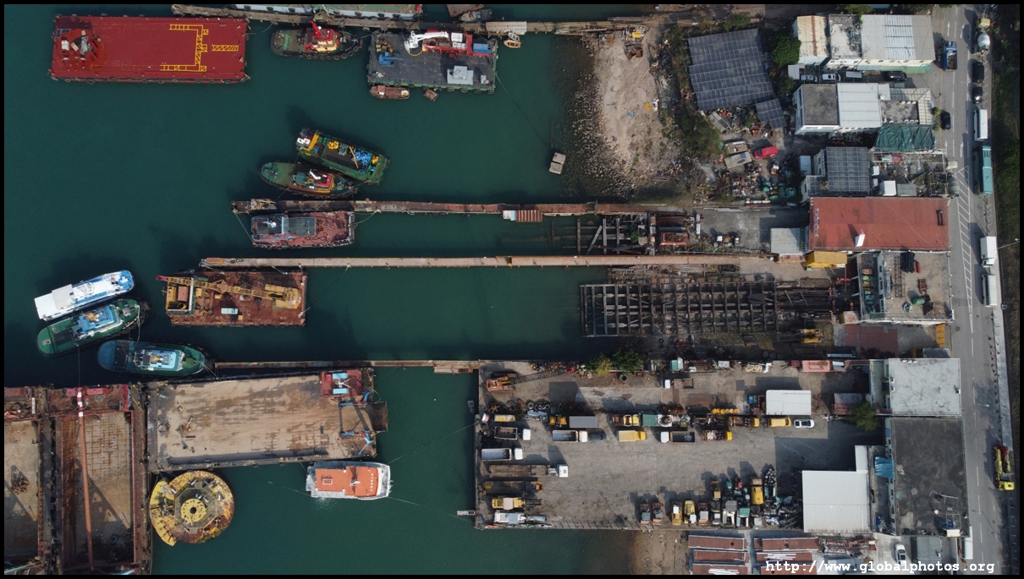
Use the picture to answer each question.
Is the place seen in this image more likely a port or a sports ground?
port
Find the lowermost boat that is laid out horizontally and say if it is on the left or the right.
left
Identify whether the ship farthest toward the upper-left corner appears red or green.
red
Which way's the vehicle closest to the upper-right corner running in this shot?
up and down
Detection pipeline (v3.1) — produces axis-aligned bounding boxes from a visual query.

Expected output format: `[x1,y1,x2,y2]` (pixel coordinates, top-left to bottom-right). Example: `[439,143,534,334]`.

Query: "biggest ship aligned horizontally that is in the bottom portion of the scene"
[142,366,390,473]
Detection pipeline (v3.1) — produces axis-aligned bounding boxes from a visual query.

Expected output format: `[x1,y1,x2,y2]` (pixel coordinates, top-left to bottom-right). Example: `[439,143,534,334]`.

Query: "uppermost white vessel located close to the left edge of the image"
[34,271,138,322]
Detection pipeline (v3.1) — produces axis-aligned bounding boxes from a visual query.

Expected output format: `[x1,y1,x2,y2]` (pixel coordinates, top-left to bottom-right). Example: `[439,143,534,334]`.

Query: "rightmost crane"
[486,369,575,392]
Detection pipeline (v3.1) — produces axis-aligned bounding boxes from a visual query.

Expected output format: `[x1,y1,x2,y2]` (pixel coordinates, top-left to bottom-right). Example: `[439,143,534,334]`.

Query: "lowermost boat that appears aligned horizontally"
[304,460,394,502]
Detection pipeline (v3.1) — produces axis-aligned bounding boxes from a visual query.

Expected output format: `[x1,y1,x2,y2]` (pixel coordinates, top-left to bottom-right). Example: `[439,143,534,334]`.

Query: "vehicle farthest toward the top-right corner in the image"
[969,17,989,59]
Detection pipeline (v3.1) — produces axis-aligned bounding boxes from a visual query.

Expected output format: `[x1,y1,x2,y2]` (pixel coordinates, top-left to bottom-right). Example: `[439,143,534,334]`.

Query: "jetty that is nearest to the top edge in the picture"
[172,5,670,38]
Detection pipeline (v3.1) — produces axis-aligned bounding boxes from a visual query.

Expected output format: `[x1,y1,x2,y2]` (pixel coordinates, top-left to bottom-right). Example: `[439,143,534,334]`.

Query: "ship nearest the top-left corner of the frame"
[51,15,251,83]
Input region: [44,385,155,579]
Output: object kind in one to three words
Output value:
ship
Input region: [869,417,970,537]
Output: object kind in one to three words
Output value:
building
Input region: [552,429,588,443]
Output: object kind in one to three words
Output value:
vehicle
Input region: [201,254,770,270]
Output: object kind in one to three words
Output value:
pier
